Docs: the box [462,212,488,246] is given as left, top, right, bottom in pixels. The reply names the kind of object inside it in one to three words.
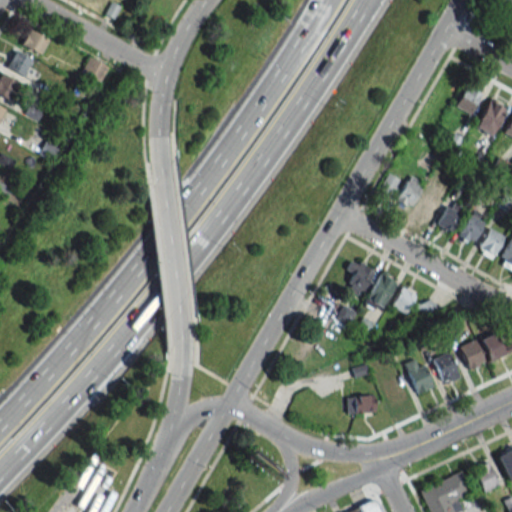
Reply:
house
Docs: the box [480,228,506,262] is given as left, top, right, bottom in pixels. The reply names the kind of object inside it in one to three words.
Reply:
house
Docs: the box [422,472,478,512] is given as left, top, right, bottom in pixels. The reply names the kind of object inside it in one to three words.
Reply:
building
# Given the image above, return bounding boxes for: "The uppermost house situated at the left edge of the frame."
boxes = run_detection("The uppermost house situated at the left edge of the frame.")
[24,30,50,54]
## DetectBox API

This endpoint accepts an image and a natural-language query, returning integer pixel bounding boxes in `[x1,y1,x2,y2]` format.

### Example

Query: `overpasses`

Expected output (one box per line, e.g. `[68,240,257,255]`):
[144,137,200,366]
